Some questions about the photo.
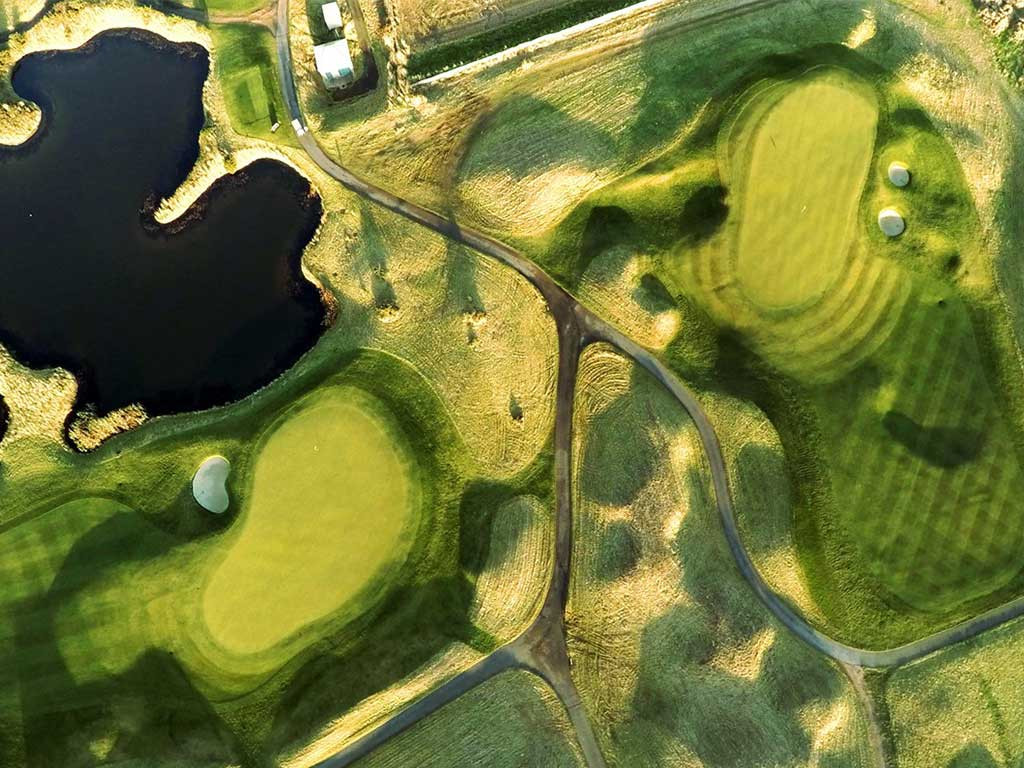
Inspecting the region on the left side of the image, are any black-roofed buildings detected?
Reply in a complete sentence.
No, the scene shows no black-roofed building on the left side of the image.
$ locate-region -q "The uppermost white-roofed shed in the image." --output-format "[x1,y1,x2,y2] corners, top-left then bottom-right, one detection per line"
[322,2,345,36]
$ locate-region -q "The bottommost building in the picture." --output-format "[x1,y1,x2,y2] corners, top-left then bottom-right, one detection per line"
[315,39,355,79]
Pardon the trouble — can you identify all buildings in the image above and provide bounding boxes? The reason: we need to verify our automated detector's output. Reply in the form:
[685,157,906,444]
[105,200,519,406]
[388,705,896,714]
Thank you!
[322,2,345,36]
[315,39,355,79]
